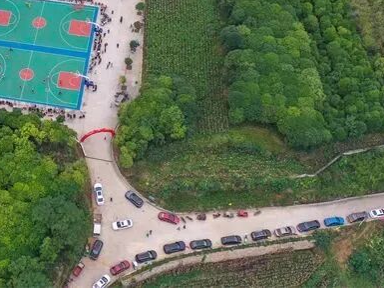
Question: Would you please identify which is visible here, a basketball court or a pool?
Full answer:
Of the two, only a basketball court appears.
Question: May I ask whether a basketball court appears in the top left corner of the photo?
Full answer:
Yes, I can see a basketball court in the top left corner of the photo.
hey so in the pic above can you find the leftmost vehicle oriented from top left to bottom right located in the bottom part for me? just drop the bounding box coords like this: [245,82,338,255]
[124,189,144,207]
